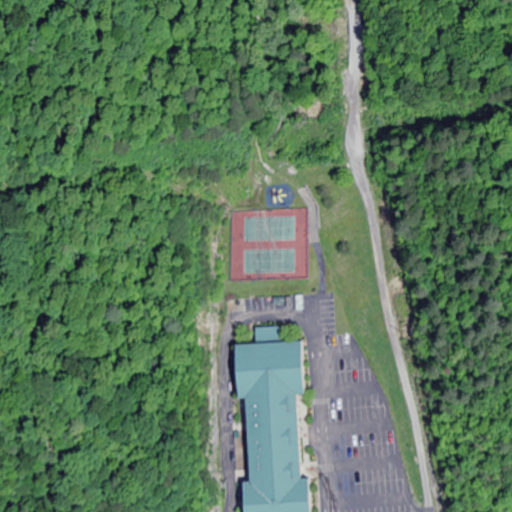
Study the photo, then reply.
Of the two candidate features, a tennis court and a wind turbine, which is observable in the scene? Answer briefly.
tennis court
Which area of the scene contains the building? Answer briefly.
bottom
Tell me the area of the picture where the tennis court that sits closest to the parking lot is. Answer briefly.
center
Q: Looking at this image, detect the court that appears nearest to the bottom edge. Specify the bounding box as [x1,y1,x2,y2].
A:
[231,243,308,280]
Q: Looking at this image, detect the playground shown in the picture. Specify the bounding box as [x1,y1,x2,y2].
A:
[266,184,294,208]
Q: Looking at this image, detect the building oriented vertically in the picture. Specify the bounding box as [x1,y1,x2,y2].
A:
[234,325,310,512]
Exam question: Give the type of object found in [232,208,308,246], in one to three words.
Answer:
tennis court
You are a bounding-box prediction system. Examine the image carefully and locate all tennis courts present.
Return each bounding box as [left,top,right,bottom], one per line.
[232,208,308,246]
[231,243,308,280]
